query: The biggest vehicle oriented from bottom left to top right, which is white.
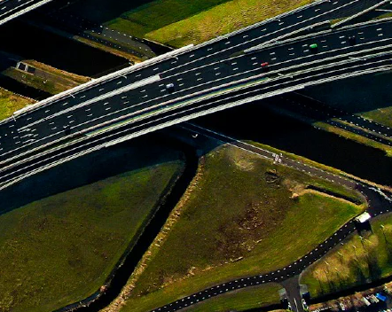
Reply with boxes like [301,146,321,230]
[354,212,370,226]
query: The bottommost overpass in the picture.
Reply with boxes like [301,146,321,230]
[8,42,313,174]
